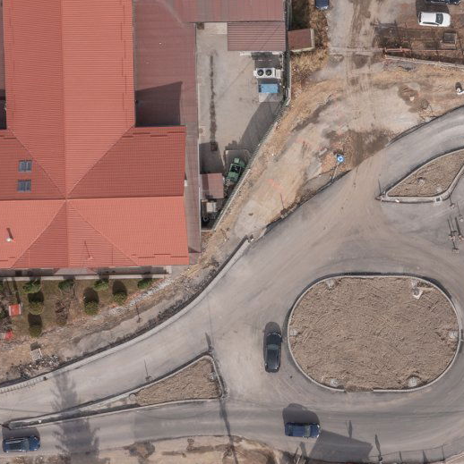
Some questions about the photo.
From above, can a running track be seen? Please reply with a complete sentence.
No, this view has no running track in it.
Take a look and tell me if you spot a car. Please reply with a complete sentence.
Yes, the picture does show a car.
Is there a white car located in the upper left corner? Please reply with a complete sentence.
No, no white car can be made out in the upper left corner.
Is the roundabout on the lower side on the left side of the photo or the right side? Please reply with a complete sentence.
The roundabout on the lower side is on the right side of the image.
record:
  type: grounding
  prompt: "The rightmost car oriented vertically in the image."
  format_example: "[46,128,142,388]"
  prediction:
[262,334,280,374]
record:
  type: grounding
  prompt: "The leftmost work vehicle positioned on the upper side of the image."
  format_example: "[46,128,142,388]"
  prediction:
[223,154,247,185]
